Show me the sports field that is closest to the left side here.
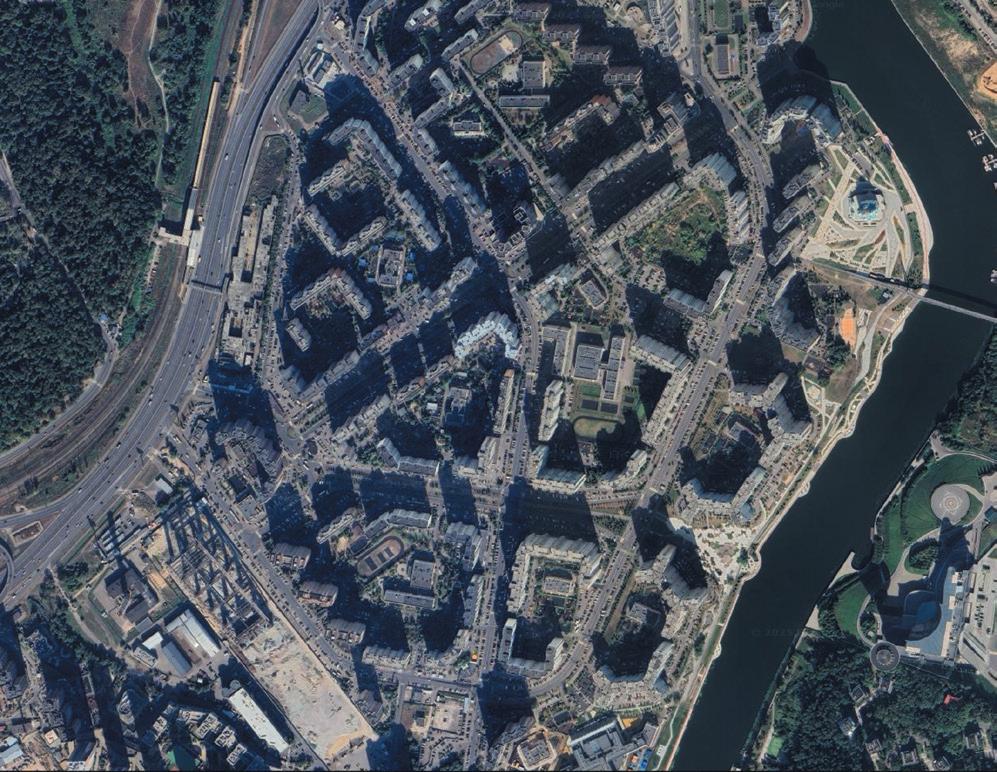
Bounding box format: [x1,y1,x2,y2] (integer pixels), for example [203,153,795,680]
[349,529,410,583]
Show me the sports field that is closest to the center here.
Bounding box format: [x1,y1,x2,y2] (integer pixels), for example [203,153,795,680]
[571,384,646,440]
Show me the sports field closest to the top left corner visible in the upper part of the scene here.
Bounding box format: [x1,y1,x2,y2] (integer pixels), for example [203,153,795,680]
[462,22,533,84]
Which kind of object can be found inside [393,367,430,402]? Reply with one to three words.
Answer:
building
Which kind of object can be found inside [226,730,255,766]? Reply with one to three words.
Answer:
building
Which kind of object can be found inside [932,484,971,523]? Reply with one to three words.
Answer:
helipad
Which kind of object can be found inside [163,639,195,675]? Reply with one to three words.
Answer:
shed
